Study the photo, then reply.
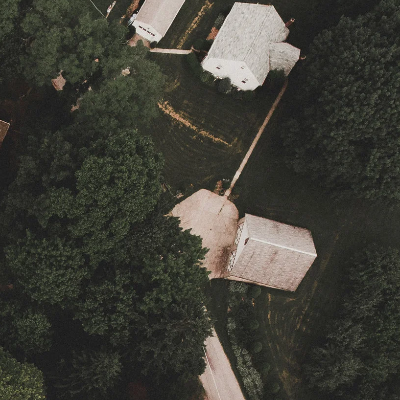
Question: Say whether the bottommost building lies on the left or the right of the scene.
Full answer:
The bottommost building appears in the right half of the scene.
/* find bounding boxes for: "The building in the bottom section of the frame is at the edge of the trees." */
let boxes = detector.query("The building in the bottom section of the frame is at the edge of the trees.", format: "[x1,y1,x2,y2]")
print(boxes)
[227,213,318,291]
